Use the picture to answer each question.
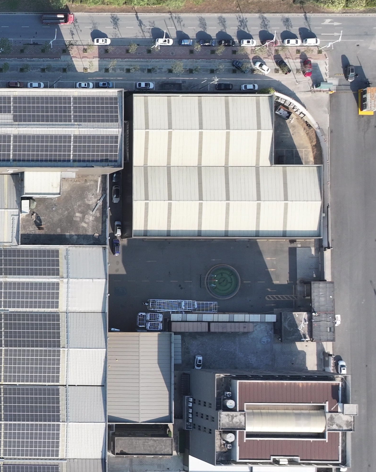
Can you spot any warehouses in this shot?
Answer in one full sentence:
Yes, you can see a warehouse in this photo.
